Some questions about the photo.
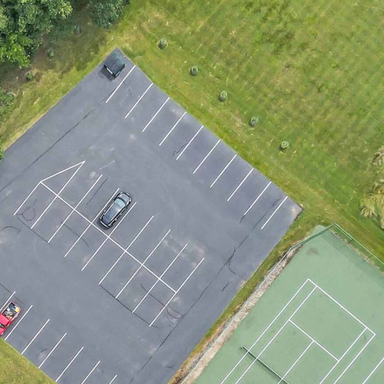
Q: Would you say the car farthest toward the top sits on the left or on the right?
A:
left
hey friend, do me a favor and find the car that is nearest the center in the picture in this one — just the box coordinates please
[102,190,134,229]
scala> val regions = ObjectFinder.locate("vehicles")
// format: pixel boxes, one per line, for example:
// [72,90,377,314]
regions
[102,190,134,229]
[0,300,22,338]
[102,48,129,80]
